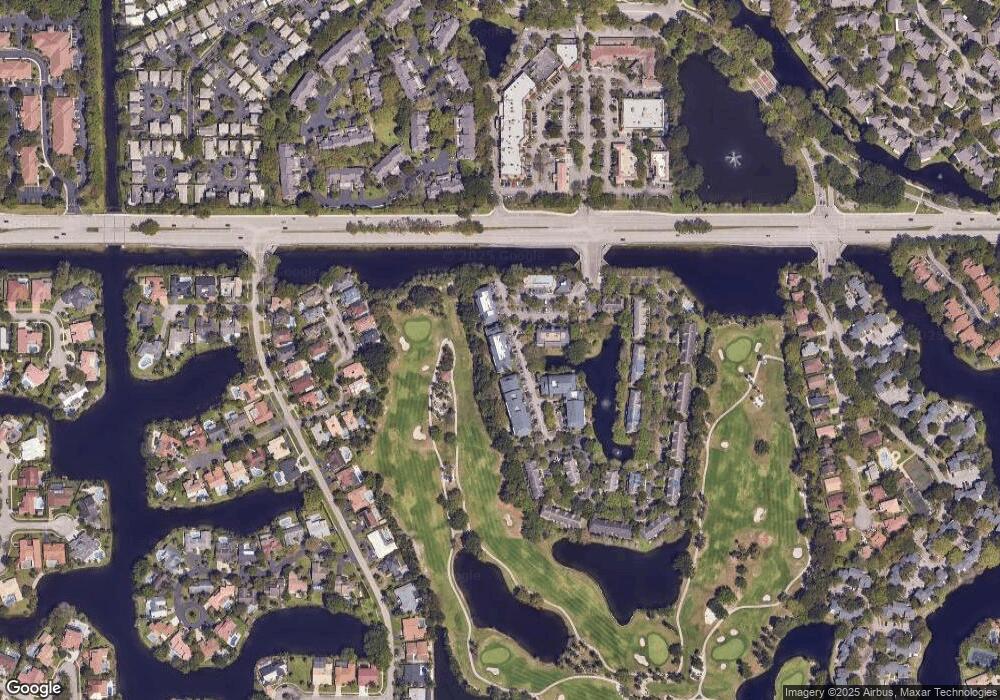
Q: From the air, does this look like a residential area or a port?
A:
residential area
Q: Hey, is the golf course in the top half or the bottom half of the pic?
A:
bottom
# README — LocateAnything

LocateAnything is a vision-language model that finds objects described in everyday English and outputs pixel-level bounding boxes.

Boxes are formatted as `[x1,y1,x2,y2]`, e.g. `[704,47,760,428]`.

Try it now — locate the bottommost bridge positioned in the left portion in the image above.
[241,243,277,274]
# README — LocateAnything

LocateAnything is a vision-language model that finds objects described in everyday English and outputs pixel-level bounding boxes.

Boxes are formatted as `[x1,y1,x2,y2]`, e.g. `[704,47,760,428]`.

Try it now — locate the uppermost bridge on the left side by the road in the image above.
[103,213,126,248]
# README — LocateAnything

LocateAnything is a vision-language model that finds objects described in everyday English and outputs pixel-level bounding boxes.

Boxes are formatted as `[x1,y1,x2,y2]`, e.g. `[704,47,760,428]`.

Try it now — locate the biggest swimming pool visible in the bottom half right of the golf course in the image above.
[878,447,900,469]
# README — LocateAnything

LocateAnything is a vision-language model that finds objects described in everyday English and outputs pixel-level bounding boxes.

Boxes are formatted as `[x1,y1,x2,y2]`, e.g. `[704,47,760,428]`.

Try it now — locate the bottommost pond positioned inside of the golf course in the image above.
[453,550,567,662]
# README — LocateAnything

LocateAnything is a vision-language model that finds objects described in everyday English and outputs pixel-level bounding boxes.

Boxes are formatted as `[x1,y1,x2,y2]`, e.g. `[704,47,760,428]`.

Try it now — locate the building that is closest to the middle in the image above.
[480,322,515,376]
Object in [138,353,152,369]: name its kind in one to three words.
swimming pool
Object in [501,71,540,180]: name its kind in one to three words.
building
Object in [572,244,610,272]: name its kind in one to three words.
bridge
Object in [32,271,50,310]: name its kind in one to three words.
house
